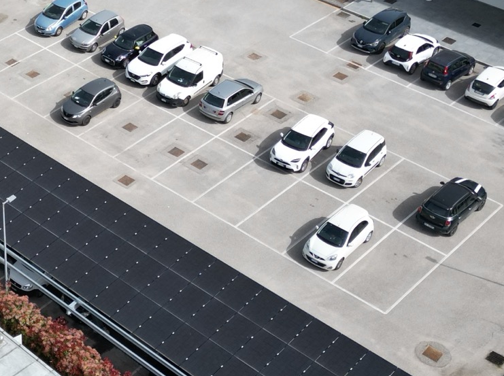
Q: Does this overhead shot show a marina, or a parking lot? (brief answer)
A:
parking lot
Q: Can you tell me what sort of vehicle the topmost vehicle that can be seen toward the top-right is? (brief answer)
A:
car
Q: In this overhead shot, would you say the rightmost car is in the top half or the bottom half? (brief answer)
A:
top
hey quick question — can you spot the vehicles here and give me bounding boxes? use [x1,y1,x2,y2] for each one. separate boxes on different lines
[415,175,490,237]
[57,74,123,126]
[465,65,504,109]
[419,47,475,90]
[327,127,393,187]
[271,113,342,172]
[385,32,442,74]
[68,7,129,52]
[33,0,94,36]
[304,203,377,271]
[154,44,226,106]
[353,4,413,52]
[101,21,162,67]
[125,33,194,86]
[196,75,267,124]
